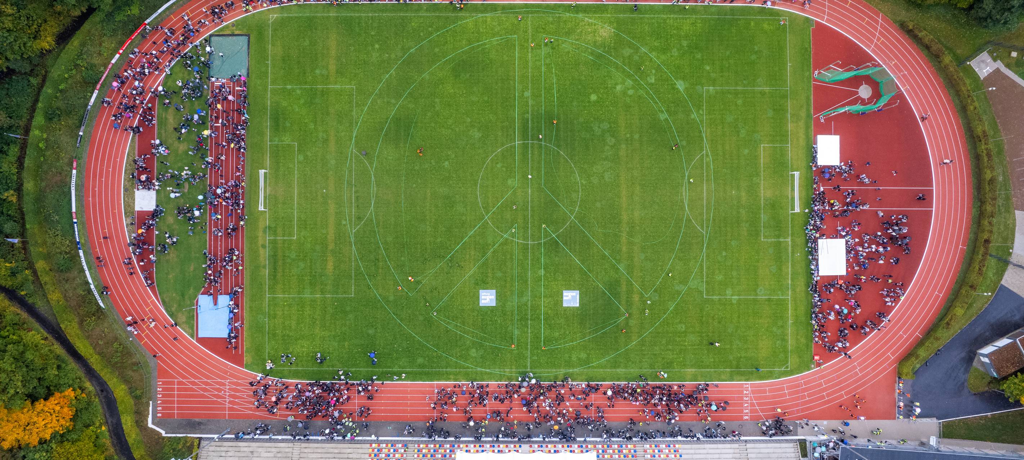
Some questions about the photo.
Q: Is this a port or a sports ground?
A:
sports ground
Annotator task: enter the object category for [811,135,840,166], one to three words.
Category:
tent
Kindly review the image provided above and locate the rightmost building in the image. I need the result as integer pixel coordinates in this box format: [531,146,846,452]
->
[978,330,1024,379]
